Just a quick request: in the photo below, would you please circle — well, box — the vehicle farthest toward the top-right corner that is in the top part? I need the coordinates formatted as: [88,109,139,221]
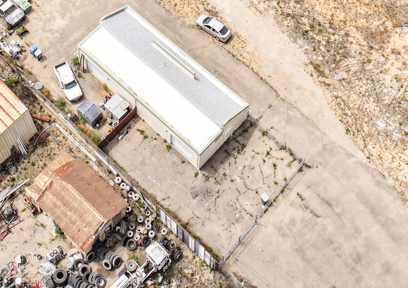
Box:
[193,15,231,44]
